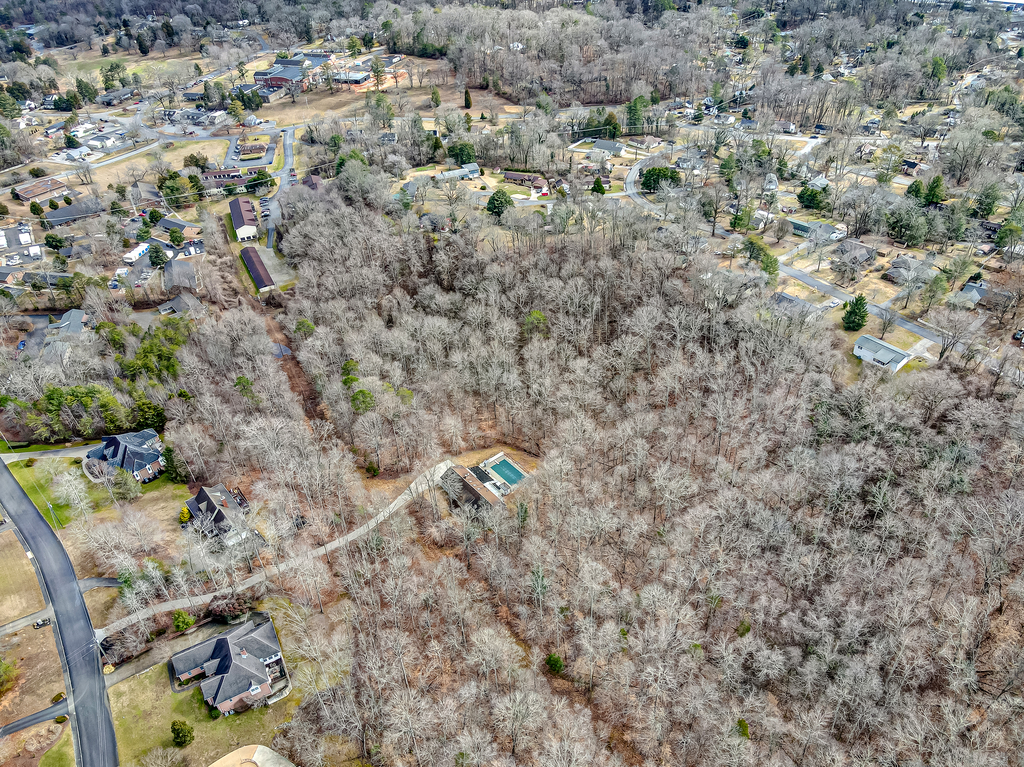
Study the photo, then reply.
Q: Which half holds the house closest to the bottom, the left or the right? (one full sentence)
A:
It is on the left.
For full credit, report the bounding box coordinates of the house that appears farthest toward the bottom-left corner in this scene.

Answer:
[172,610,281,711]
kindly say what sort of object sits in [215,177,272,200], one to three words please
building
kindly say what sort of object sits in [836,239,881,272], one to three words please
house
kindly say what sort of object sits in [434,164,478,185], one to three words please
house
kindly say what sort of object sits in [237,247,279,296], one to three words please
building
